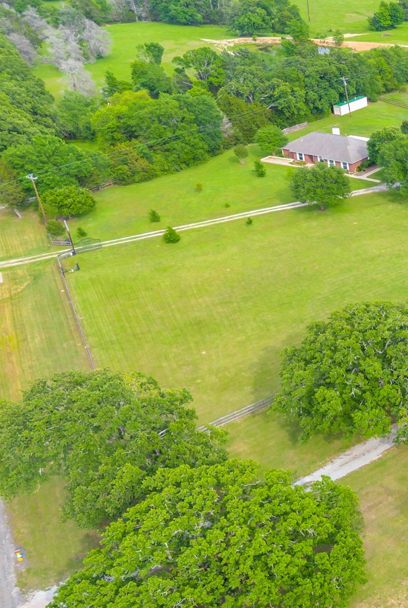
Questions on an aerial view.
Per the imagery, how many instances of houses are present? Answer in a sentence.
Altogether the scene contains 1 house.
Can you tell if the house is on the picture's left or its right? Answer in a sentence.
The house sits on the right side.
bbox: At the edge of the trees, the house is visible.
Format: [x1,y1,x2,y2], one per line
[282,123,372,171]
